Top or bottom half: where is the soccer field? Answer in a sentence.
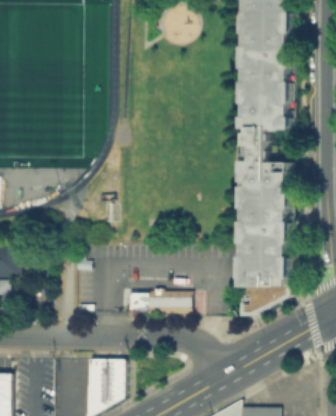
It is in the top half that the soccer field appears.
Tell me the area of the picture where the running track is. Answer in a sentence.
The running track appears toward the top left of the photo.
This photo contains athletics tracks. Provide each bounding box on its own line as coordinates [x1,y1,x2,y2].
[0,0,119,217]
